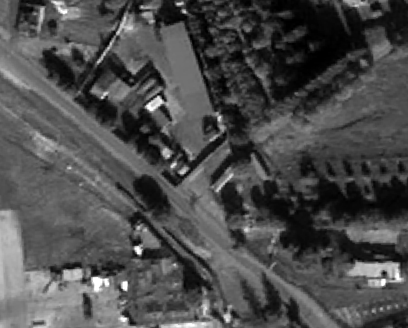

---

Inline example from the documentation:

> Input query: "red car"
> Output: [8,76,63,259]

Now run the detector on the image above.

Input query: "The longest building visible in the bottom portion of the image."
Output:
[348,262,401,279]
